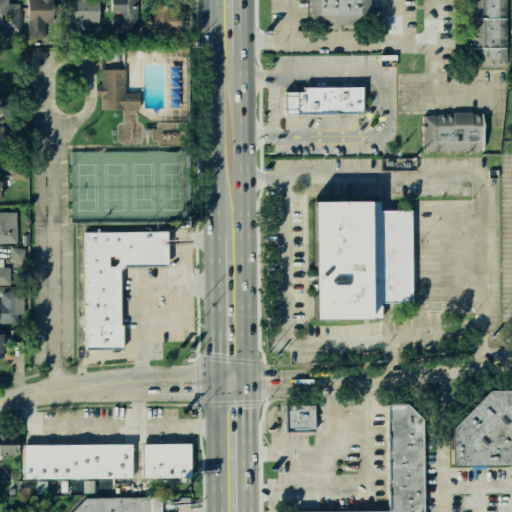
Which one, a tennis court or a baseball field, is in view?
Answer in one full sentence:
The one in the frame is a tennis court.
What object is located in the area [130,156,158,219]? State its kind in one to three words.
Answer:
tennis court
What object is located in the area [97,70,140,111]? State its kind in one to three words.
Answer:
house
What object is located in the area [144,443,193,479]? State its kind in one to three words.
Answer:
building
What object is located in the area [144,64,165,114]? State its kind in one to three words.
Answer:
swimming pool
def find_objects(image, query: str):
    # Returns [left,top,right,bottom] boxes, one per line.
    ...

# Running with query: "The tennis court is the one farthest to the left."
[74,156,101,219]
